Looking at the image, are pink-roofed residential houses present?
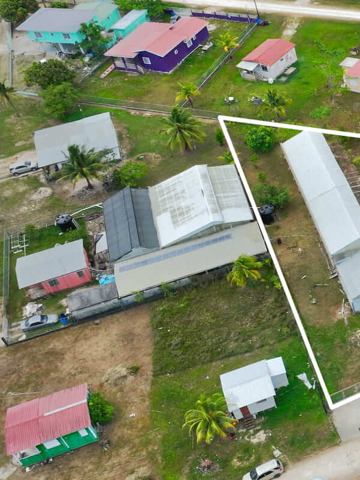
Yes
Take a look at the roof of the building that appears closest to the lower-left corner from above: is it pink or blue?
pink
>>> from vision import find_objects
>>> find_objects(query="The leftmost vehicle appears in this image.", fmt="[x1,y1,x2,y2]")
[7,161,39,177]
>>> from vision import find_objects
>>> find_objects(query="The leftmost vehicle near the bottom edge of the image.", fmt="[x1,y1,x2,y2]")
[241,458,285,480]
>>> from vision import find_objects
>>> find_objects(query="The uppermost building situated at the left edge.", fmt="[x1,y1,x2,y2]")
[16,3,101,56]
